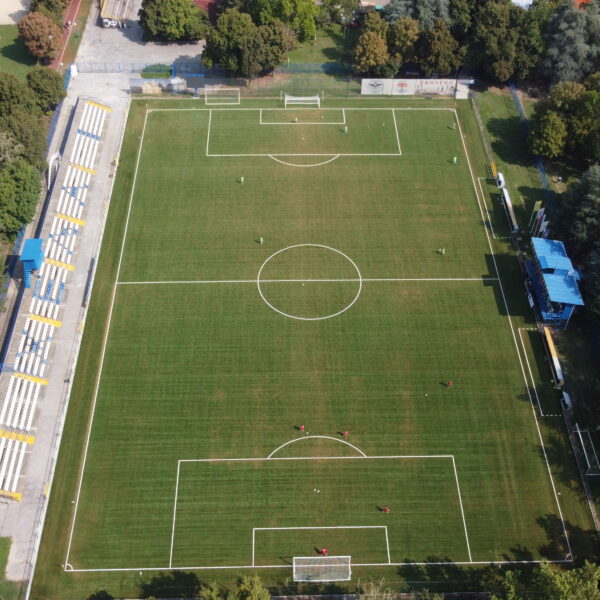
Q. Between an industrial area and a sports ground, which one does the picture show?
sports ground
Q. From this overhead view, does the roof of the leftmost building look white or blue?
blue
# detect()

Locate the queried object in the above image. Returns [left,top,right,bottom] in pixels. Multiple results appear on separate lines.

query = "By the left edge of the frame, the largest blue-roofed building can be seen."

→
[19,236,45,294]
